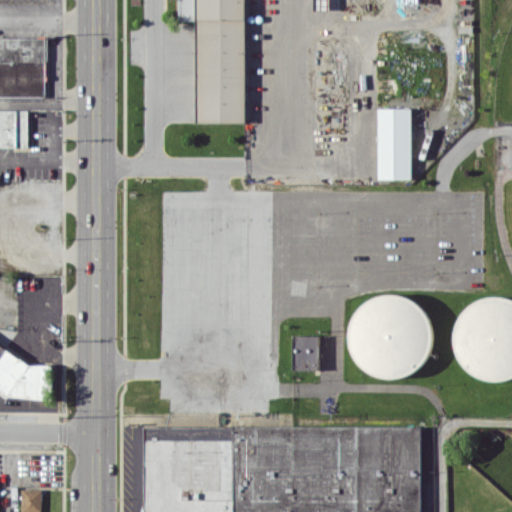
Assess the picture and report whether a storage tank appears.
Yes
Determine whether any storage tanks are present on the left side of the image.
No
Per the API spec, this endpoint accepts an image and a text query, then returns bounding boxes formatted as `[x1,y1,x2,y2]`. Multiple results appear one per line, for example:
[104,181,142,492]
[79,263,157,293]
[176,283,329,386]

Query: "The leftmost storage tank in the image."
[348,295,434,380]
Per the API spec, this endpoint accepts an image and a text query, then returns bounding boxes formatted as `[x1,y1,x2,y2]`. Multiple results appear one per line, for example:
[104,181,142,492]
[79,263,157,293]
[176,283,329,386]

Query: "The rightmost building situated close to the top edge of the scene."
[196,0,246,123]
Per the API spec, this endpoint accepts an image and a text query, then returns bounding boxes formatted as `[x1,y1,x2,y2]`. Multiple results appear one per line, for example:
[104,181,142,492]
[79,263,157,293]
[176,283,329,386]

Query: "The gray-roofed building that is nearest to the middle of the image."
[294,337,320,372]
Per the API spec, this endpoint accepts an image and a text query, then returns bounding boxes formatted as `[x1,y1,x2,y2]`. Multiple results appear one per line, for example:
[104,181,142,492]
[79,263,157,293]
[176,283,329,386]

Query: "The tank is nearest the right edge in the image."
[454,297,512,382]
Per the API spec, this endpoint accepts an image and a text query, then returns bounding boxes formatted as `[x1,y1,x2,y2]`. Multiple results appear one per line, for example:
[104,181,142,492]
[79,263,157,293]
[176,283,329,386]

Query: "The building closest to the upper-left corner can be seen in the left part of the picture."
[0,38,48,98]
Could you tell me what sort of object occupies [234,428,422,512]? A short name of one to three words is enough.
building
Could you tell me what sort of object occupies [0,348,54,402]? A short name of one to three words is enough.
building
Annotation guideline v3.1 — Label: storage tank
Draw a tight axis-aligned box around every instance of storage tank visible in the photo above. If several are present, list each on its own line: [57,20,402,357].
[348,295,434,380]
[454,297,512,382]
